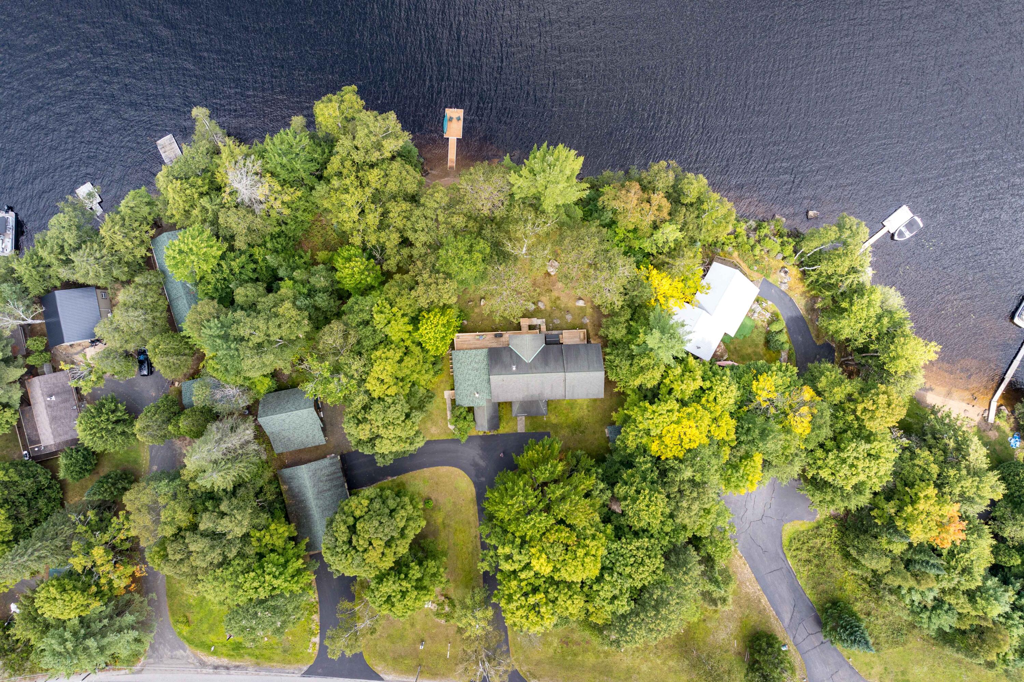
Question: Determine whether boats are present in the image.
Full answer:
Yes, the image includes a boat.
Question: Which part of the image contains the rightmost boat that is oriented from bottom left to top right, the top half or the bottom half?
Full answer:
You can find the rightmost boat that is oriented from bottom left to top right in the top half.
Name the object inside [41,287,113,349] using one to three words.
building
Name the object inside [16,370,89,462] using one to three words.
house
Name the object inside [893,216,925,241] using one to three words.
boat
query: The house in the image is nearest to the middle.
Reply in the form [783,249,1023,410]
[449,318,604,431]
